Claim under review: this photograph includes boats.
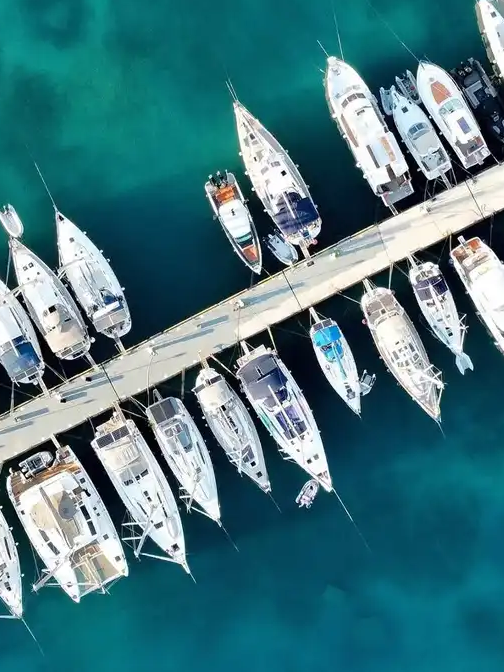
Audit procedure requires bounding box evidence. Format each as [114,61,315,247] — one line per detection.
[3,428,127,601]
[2,235,99,379]
[339,272,445,430]
[227,83,332,261]
[394,69,421,104]
[387,22,499,178]
[318,21,420,222]
[213,328,369,549]
[204,168,271,293]
[391,87,457,200]
[262,228,297,271]
[360,372,376,394]
[19,451,53,472]
[183,351,279,508]
[0,510,42,653]
[0,200,22,240]
[38,170,155,361]
[293,480,319,508]
[449,52,504,149]
[452,350,474,379]
[129,368,237,550]
[299,307,362,418]
[0,279,66,409]
[445,218,504,349]
[88,400,192,574]
[395,244,473,354]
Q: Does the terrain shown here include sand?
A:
No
